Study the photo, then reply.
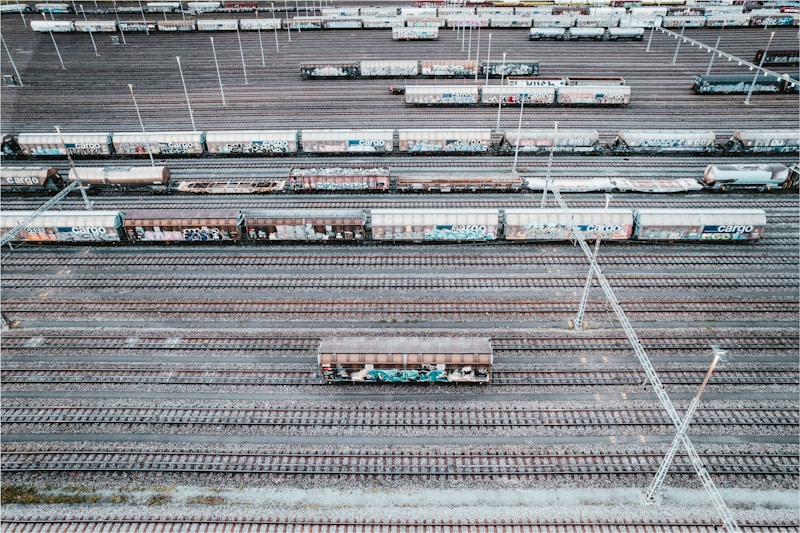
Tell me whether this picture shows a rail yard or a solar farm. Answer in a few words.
rail yard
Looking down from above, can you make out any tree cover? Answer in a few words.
No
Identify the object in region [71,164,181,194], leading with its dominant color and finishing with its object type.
white rail car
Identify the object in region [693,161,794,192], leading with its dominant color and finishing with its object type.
white rail car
